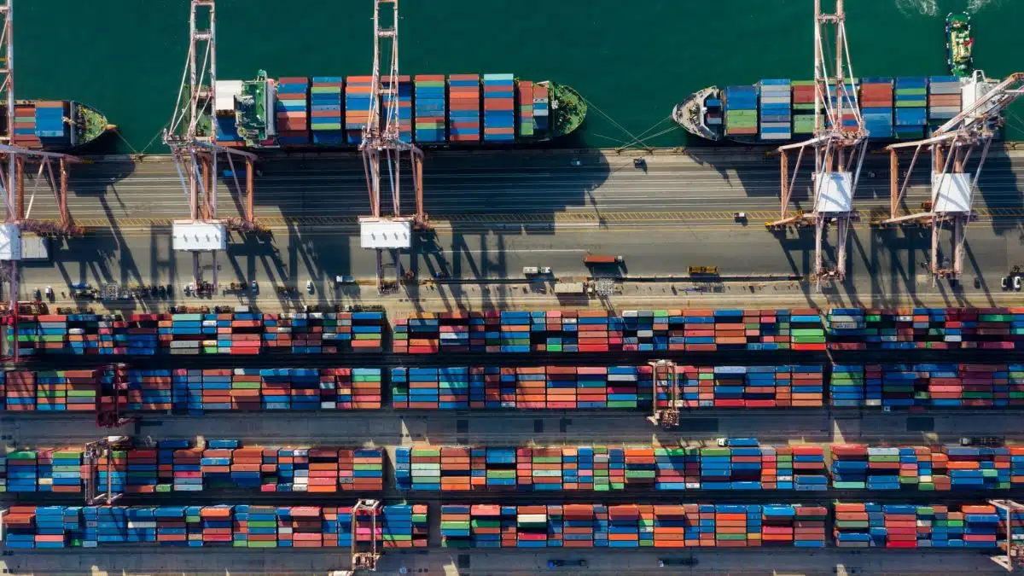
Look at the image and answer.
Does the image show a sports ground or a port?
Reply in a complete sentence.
The area seen from above is a port.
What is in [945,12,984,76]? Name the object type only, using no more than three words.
boat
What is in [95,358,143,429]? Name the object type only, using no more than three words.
crane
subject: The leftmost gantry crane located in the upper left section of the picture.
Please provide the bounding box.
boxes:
[0,0,101,301]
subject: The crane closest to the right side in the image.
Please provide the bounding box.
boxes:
[978,495,1024,573]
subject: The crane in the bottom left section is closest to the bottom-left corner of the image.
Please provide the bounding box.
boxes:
[85,430,137,506]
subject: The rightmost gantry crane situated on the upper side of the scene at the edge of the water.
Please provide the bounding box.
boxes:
[859,54,1024,287]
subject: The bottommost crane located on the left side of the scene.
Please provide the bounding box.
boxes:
[353,489,389,571]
